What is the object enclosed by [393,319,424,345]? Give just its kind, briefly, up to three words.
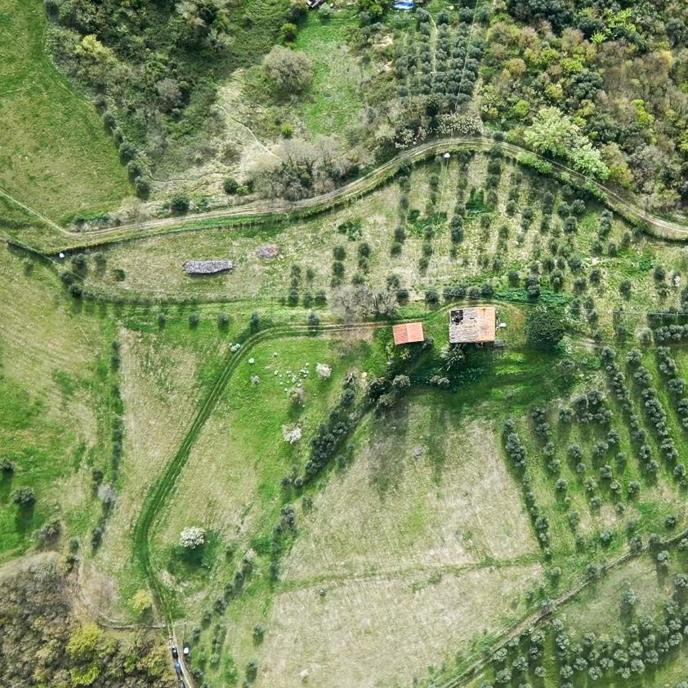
barn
